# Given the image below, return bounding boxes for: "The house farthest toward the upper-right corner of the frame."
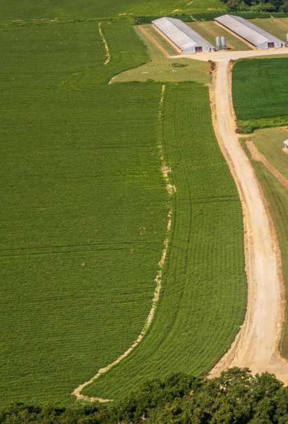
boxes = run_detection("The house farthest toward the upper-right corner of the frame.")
[217,13,284,48]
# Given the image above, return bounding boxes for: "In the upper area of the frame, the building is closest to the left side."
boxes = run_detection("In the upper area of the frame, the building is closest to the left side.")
[152,16,211,53]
